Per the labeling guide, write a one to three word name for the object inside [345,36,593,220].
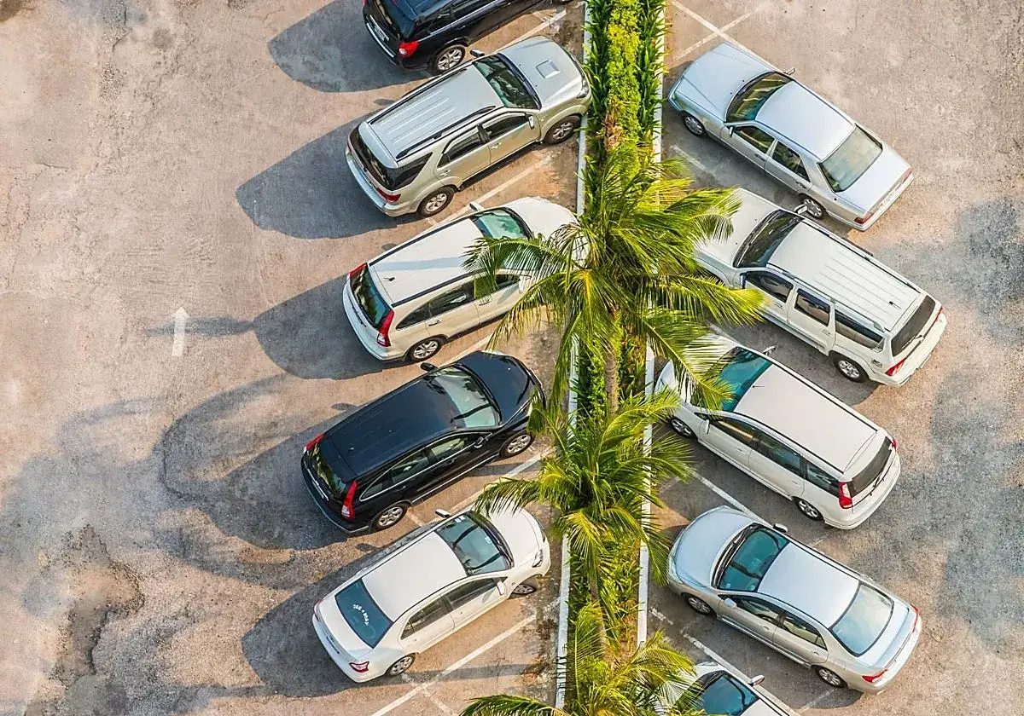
car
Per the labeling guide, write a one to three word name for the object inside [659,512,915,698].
car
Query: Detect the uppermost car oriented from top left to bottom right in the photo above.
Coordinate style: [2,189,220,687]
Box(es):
[663,45,908,239]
